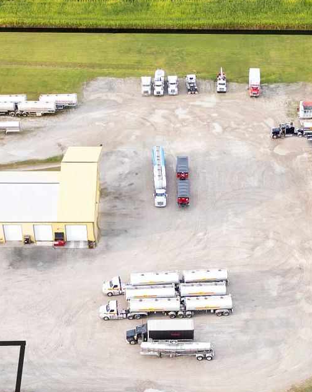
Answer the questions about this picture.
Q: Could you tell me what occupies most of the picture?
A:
paved ground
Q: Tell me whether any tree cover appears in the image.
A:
No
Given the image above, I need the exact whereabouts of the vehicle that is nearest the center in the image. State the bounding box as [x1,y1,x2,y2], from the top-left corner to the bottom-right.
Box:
[154,186,167,207]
